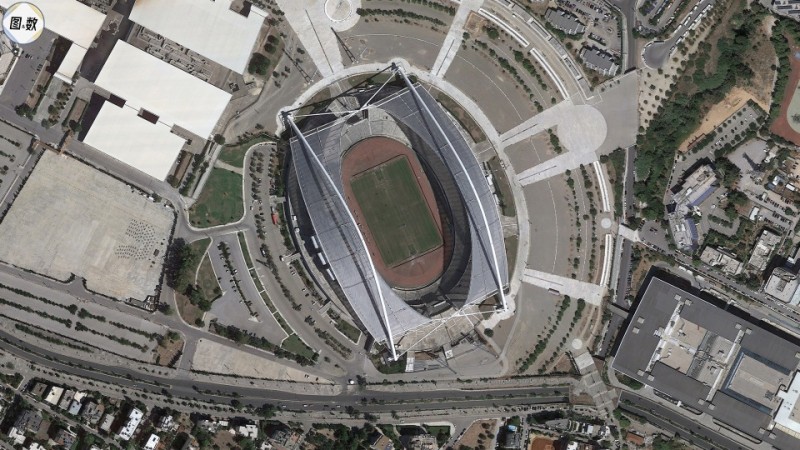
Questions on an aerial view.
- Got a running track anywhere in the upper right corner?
Yes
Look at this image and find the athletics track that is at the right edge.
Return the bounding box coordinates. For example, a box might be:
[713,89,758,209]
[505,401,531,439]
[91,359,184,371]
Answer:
[769,39,800,148]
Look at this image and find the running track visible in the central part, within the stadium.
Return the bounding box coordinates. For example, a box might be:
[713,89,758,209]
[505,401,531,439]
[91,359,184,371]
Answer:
[341,136,454,290]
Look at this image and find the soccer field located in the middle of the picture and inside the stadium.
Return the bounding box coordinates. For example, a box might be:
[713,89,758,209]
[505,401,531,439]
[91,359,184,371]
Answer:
[350,154,443,267]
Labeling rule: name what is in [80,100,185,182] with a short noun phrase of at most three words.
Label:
building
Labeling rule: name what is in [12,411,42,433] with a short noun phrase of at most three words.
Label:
house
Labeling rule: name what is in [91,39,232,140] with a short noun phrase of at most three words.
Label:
building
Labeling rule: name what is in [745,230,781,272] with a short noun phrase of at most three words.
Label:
house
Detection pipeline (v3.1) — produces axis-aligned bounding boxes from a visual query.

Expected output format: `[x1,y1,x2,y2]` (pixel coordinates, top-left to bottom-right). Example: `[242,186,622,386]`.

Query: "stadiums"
[284,63,511,366]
